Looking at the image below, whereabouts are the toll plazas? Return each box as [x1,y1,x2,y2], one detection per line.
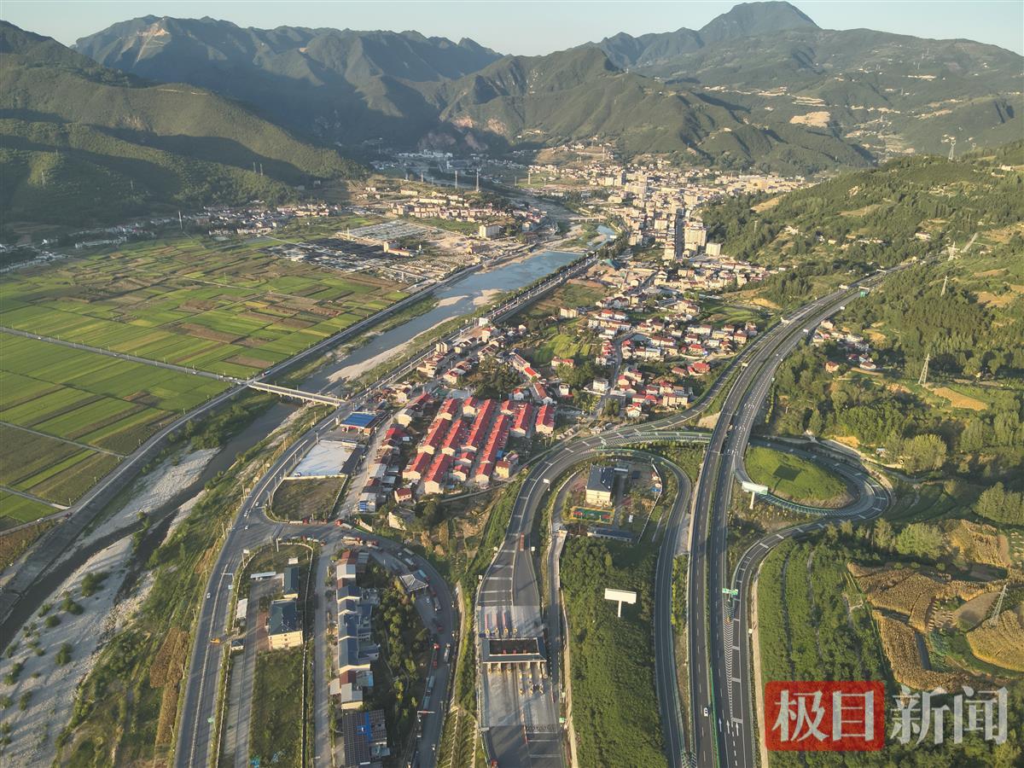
[477,606,558,754]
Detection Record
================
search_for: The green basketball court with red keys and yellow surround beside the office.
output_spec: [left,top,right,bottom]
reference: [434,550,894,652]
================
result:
[570,504,615,523]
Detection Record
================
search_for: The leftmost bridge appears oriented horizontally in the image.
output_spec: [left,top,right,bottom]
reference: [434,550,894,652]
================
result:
[239,381,348,406]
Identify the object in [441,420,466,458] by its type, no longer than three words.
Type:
house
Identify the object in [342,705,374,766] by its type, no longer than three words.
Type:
shed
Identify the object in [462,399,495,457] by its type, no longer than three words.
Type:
house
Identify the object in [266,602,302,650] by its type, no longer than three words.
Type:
building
